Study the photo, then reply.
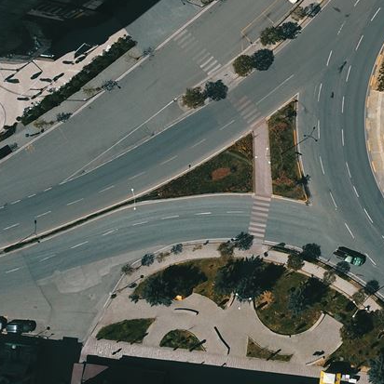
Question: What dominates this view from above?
paved ground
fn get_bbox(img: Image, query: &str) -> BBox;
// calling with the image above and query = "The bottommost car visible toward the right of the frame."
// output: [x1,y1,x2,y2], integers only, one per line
[335,249,363,268]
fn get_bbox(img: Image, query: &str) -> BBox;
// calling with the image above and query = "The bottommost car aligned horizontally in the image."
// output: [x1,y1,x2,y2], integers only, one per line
[4,321,34,335]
